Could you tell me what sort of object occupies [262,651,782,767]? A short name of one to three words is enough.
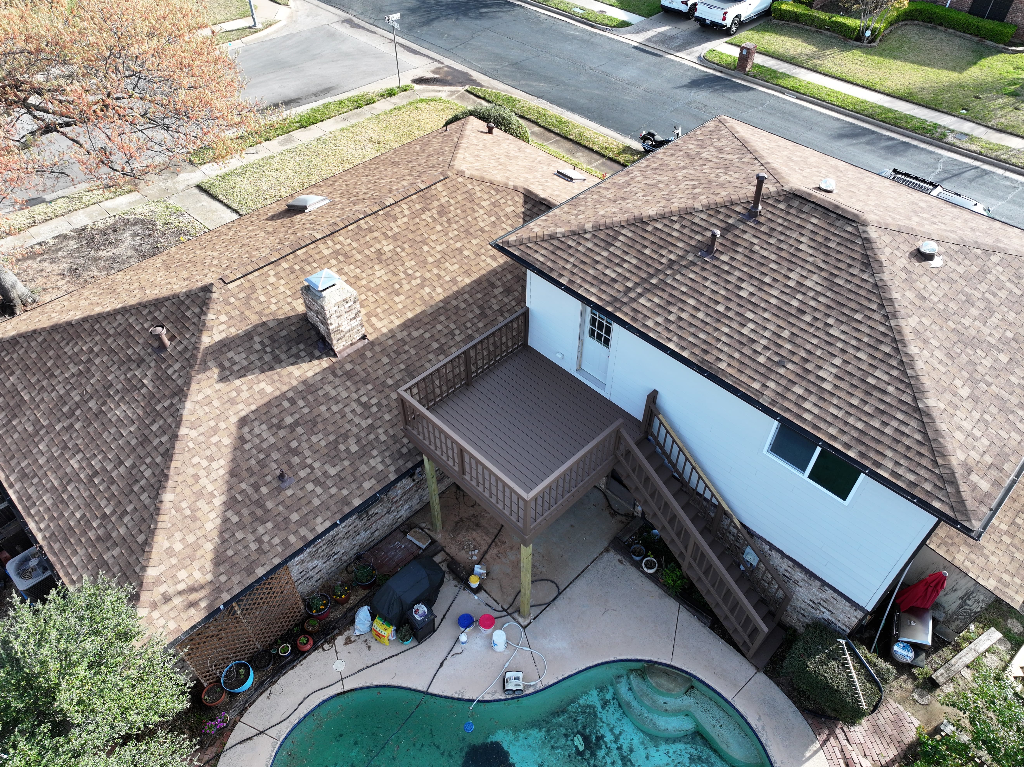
swimming pool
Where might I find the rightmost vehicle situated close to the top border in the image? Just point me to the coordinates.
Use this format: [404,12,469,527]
[692,0,778,36]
